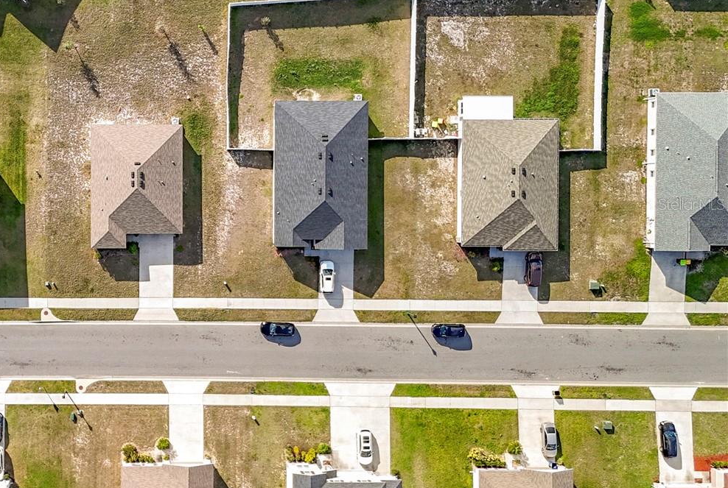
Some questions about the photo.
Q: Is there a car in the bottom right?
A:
Yes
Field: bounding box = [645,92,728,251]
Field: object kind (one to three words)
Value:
house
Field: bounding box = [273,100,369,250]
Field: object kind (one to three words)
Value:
house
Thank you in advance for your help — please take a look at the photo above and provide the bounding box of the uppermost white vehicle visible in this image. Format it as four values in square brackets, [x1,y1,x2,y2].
[319,257,336,291]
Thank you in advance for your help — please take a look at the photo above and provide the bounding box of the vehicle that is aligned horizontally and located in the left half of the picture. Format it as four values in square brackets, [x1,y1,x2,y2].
[259,320,294,337]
